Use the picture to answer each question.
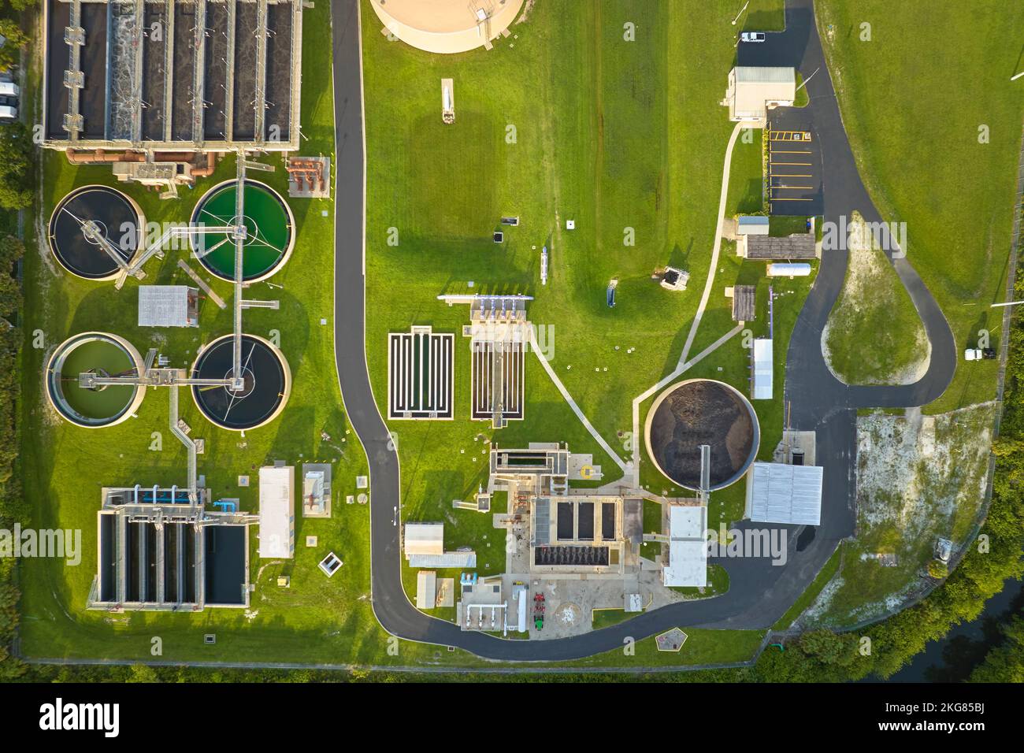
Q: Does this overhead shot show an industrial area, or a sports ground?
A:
industrial area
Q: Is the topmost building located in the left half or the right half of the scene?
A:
right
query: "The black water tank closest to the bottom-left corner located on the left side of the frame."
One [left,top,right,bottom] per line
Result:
[191,333,293,430]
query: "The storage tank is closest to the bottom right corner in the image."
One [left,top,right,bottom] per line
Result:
[643,378,761,506]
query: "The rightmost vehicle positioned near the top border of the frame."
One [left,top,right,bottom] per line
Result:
[742,29,767,41]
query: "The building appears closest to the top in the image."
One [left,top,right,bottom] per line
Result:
[719,67,795,120]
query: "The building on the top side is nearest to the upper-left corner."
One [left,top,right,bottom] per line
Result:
[118,161,201,200]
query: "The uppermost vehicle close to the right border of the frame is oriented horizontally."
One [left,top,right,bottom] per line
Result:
[966,349,1000,361]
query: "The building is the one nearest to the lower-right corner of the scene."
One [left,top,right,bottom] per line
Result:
[742,452,824,526]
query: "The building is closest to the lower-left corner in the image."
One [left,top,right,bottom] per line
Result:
[257,459,295,557]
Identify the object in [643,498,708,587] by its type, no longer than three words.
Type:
building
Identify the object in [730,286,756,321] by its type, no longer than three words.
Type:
shed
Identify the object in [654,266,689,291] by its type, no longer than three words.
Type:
building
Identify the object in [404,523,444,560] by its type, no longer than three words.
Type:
shed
